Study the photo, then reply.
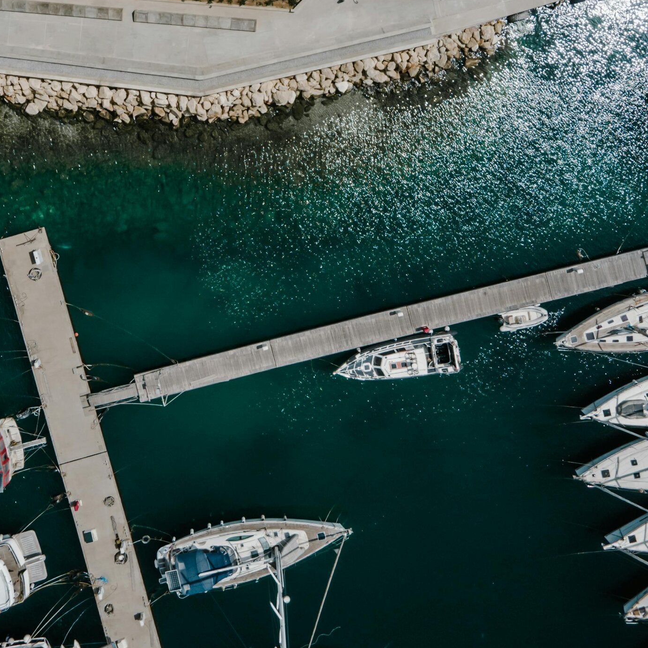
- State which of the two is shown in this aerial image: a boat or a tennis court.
boat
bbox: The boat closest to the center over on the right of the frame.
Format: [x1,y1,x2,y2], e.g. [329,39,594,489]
[324,325,460,384]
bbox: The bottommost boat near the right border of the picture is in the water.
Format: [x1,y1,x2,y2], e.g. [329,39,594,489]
[609,584,648,629]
